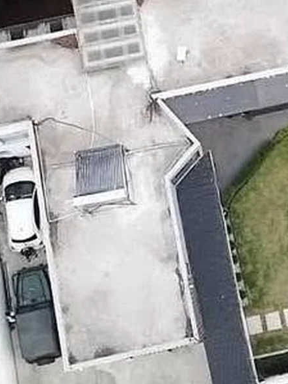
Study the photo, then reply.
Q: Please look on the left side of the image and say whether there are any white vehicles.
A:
Yes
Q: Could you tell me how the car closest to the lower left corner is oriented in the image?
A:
vertically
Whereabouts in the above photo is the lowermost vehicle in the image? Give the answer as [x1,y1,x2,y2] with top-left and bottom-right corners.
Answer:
[8,264,64,372]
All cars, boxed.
[0,171,47,255]
[8,264,64,372]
